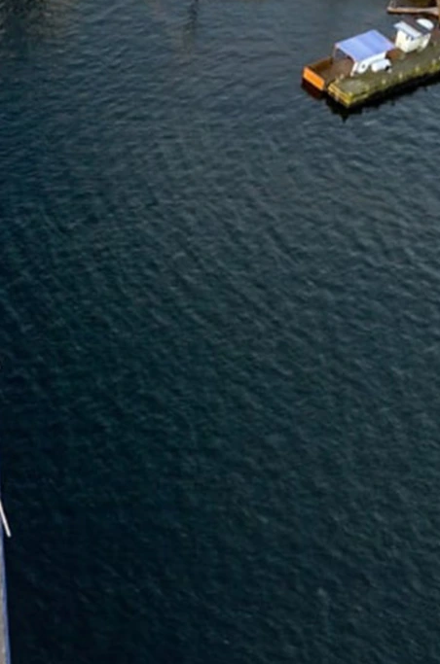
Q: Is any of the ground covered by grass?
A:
No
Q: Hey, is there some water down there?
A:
Yes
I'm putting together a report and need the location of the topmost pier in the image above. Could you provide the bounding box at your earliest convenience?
[389,1,437,17]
